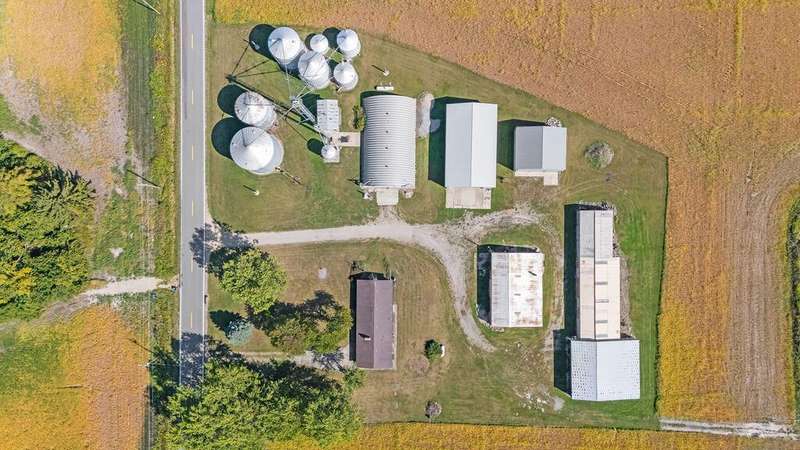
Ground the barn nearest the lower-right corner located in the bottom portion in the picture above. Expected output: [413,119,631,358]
[566,338,640,401]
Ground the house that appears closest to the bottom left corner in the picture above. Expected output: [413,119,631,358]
[356,280,392,370]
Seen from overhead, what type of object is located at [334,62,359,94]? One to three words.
silo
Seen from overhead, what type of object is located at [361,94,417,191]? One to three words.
shed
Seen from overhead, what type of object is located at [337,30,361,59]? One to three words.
silo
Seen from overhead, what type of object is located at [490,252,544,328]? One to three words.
barn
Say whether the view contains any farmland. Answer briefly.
Yes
